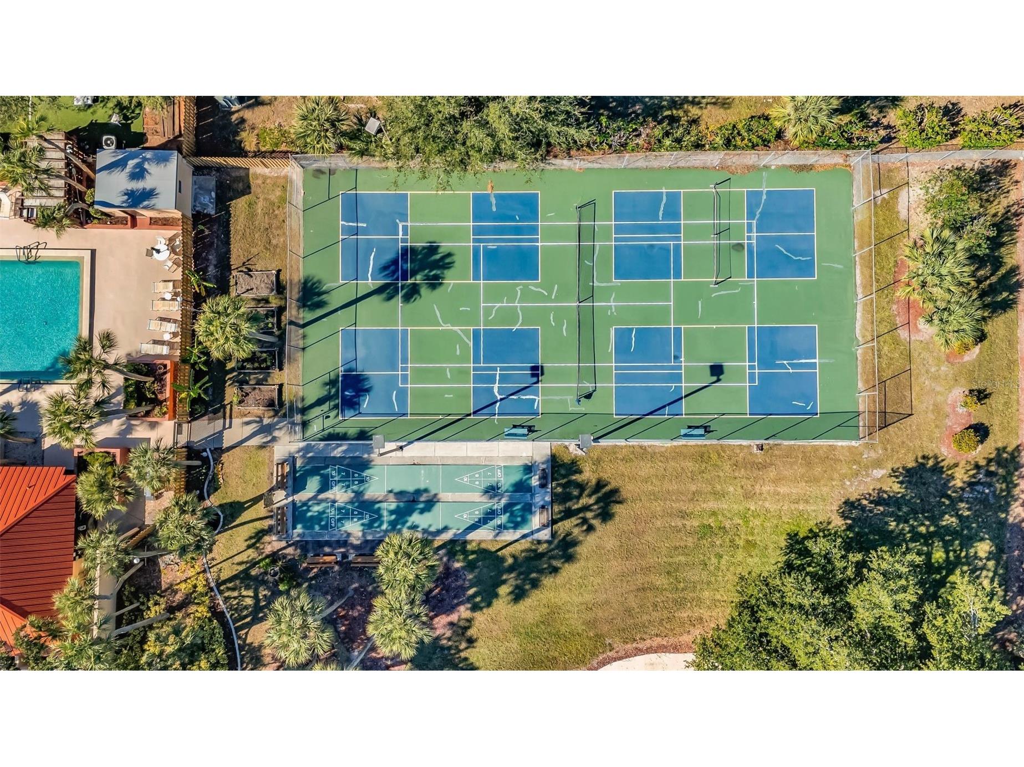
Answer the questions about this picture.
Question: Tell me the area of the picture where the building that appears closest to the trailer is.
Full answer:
The building that appears closest to the trailer is located in the top left region of the scene.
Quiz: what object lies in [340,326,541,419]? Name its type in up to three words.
sports court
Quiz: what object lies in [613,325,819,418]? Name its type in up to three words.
sports court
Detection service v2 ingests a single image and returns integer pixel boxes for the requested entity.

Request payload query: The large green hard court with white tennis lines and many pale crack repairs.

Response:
[302,167,860,441]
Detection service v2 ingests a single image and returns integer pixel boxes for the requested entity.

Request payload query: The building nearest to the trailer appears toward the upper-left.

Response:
[95,148,192,218]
